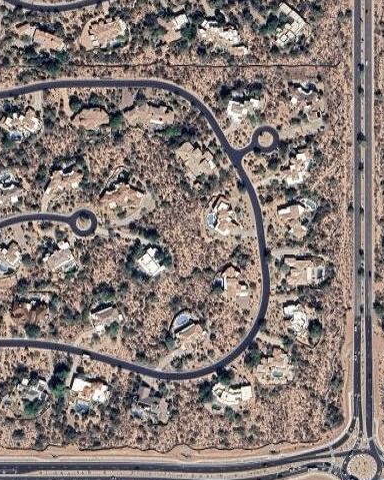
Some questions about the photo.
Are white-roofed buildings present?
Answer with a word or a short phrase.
Yes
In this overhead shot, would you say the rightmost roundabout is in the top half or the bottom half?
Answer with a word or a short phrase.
bottom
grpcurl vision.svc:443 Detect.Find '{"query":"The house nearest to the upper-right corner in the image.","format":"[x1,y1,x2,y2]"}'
[275,0,310,47]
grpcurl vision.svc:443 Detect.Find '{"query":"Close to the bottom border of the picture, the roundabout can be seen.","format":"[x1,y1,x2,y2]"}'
[332,417,384,480]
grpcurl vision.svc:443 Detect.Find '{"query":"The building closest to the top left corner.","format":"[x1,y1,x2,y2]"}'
[16,22,67,49]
